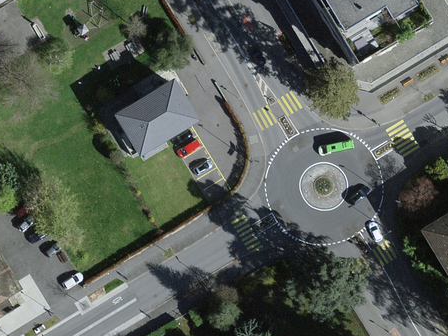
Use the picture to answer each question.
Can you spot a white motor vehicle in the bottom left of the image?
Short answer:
Yes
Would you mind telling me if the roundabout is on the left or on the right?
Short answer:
right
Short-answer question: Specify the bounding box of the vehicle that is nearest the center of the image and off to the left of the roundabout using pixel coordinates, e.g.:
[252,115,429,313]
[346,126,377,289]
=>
[193,158,214,174]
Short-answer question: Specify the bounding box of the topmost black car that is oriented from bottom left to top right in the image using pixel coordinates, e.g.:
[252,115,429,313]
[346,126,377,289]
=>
[173,129,194,145]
